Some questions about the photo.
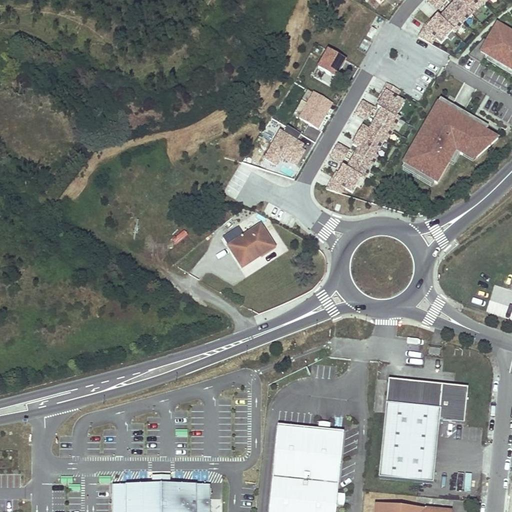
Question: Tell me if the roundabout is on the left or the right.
right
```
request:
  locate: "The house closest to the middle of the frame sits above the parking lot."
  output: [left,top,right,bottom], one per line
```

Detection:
[223,221,276,268]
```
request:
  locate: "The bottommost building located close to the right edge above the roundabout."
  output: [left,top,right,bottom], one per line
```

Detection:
[402,97,499,188]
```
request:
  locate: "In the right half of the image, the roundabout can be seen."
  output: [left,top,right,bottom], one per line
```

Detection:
[306,210,464,332]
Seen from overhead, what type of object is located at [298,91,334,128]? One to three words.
house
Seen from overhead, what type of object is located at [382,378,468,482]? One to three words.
building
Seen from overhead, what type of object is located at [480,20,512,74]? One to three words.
building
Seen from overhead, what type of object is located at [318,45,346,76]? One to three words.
house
